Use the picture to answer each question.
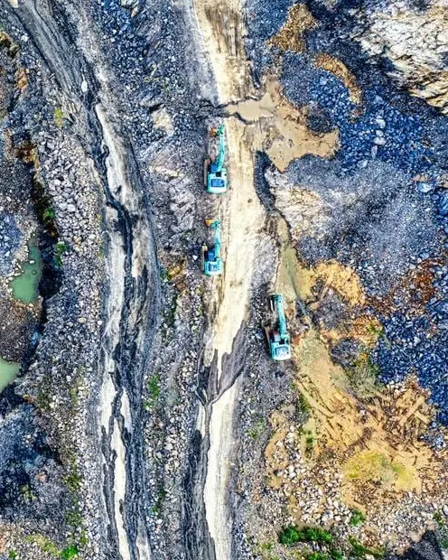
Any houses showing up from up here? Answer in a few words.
No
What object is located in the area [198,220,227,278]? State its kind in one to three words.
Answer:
work vehicle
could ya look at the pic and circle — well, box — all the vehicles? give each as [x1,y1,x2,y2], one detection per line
[198,220,227,278]
[202,121,232,195]
[265,299,295,365]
